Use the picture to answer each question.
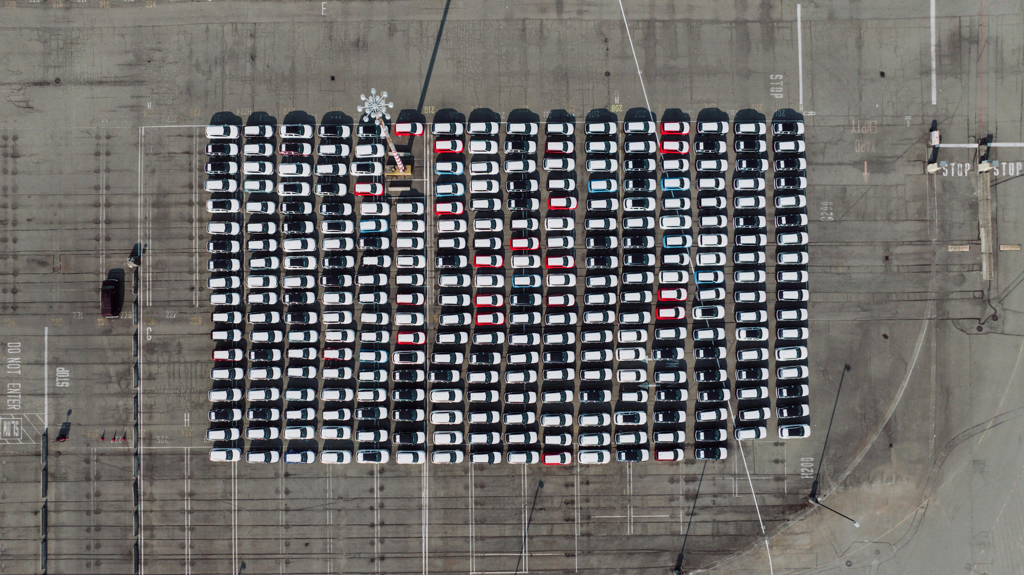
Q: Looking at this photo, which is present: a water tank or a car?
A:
car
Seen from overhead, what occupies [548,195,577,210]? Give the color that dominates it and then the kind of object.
white car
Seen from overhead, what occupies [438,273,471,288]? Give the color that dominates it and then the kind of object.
white car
